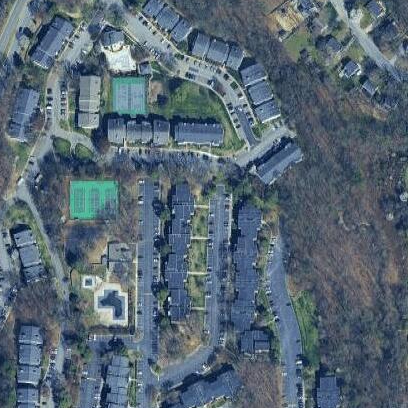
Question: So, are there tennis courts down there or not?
Yes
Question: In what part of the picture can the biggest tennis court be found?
left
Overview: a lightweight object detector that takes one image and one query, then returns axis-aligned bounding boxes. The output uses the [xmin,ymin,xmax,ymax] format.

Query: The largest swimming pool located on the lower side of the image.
[95,283,129,327]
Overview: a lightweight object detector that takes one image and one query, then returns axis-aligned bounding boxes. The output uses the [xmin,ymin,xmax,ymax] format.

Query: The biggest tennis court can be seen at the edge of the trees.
[69,181,118,220]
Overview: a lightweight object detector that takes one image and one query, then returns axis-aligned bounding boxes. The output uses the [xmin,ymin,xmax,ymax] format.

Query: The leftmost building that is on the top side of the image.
[8,90,39,142]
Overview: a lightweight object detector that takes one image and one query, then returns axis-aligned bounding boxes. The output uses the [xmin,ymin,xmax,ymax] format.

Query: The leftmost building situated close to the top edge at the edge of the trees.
[31,19,74,71]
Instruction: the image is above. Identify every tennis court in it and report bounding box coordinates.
[112,77,146,115]
[69,181,118,220]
